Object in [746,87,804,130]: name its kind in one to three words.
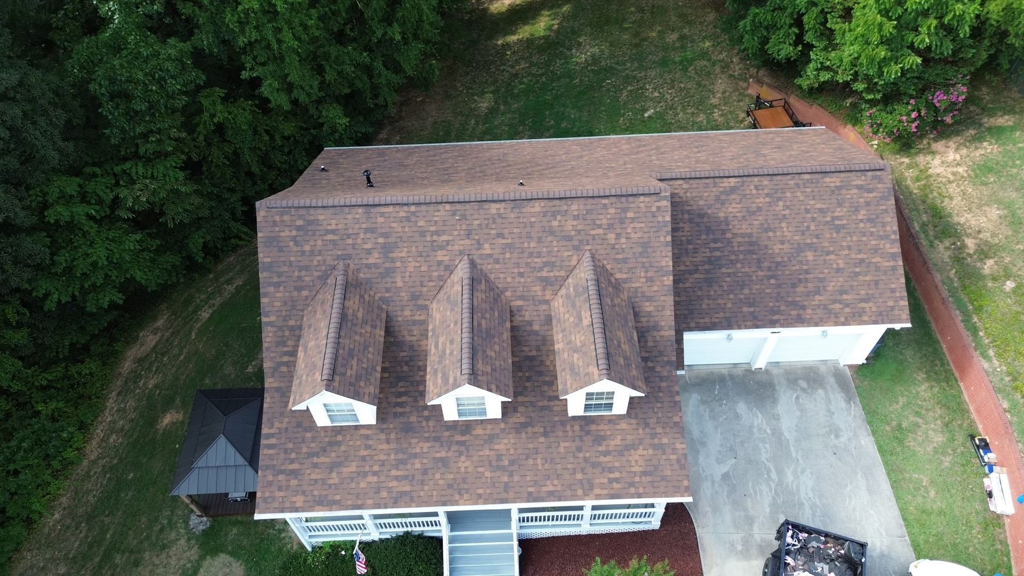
trailer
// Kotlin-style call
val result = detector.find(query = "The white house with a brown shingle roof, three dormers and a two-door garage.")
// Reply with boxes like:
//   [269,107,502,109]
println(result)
[254,127,911,576]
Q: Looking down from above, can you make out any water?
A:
No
